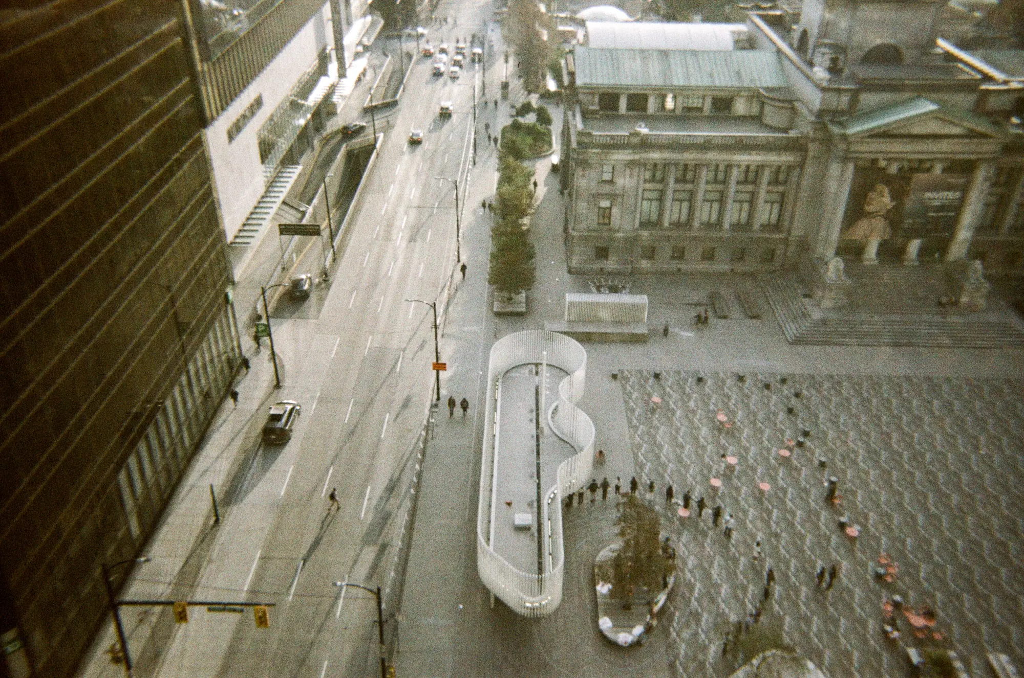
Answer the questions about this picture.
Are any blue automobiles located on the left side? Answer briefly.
No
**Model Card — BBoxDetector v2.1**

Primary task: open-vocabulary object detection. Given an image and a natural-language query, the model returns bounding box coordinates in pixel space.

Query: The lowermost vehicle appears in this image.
[264,397,304,441]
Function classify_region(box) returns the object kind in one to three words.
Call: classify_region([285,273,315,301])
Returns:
car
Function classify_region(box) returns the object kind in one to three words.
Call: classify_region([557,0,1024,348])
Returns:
building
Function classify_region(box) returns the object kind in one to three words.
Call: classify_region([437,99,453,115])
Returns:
car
